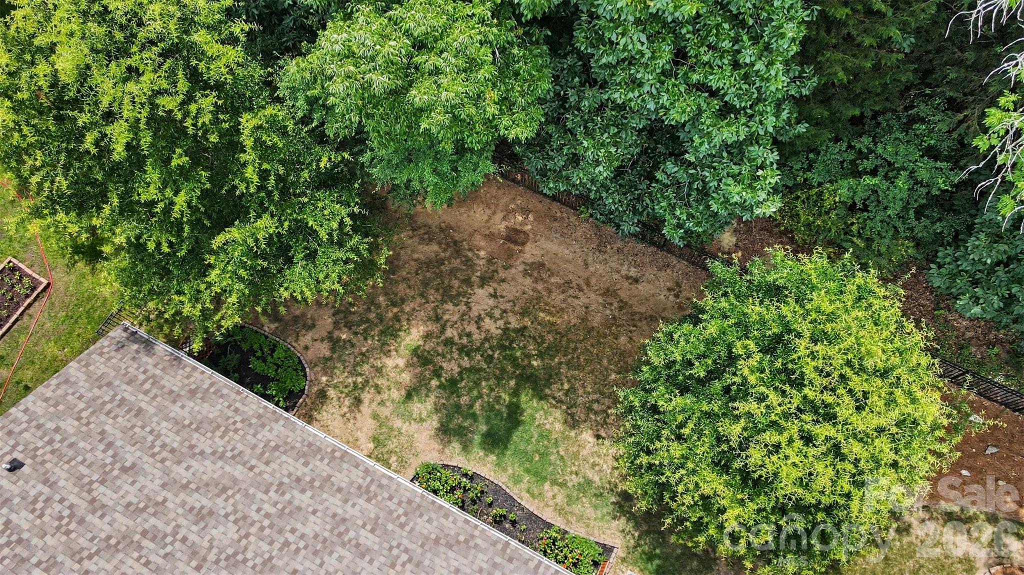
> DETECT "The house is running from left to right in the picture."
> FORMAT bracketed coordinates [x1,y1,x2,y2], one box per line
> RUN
[0,324,569,575]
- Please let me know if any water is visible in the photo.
No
